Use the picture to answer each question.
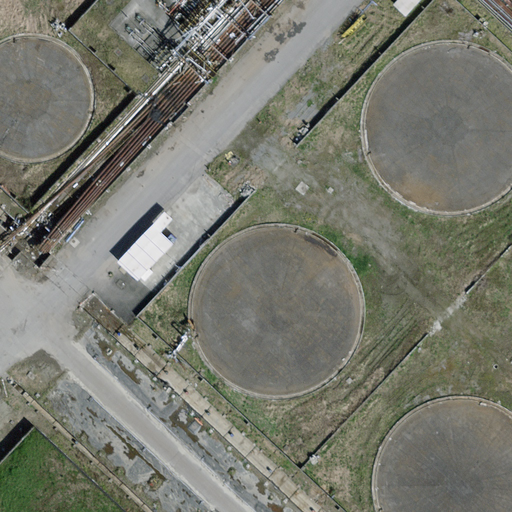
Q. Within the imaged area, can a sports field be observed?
No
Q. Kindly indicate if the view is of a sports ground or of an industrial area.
industrial area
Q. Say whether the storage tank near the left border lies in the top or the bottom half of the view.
top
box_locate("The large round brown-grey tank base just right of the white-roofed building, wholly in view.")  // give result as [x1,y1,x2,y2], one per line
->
[188,222,364,398]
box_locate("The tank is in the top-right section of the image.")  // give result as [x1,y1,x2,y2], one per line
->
[362,40,512,214]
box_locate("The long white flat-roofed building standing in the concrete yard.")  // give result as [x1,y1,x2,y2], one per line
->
[116,211,173,284]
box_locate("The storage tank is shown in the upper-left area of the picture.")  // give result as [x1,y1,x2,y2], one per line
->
[0,33,94,162]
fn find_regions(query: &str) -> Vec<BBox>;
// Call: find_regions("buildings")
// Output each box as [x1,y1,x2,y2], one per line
[116,211,173,284]
[394,0,420,16]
